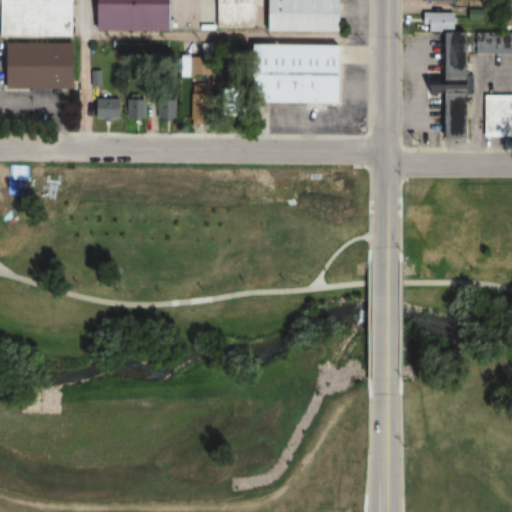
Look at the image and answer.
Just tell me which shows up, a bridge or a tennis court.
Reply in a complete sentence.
It is a bridge that can be seen here.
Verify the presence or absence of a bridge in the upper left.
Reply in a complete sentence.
No, looking in the upper left, there is no bridge.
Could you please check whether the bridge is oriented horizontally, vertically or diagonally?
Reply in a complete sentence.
From this overhead view, the bridge appears to run vertically.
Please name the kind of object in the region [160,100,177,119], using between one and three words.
house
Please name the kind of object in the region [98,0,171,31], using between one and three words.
shed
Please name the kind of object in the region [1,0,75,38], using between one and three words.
building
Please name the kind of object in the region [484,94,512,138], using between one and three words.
building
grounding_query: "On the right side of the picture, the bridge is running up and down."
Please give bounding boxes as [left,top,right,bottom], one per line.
[368,250,404,394]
